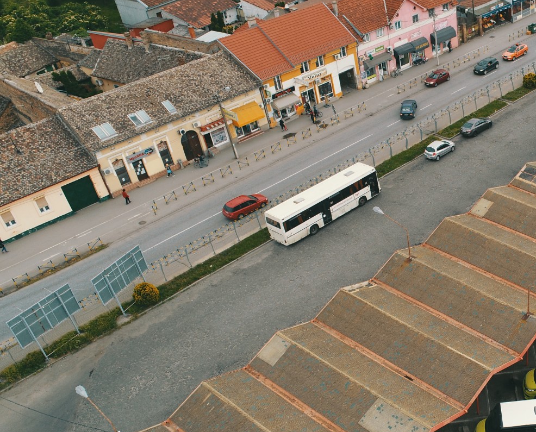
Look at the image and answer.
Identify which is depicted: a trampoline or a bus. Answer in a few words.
bus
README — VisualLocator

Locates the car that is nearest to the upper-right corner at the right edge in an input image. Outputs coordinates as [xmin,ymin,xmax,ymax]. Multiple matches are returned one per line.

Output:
[502,43,529,60]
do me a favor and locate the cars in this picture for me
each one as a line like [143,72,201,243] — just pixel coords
[396,101,426,120]
[502,43,529,60]
[460,115,493,137]
[219,194,268,221]
[422,139,455,160]
[424,67,451,87]
[473,55,499,74]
